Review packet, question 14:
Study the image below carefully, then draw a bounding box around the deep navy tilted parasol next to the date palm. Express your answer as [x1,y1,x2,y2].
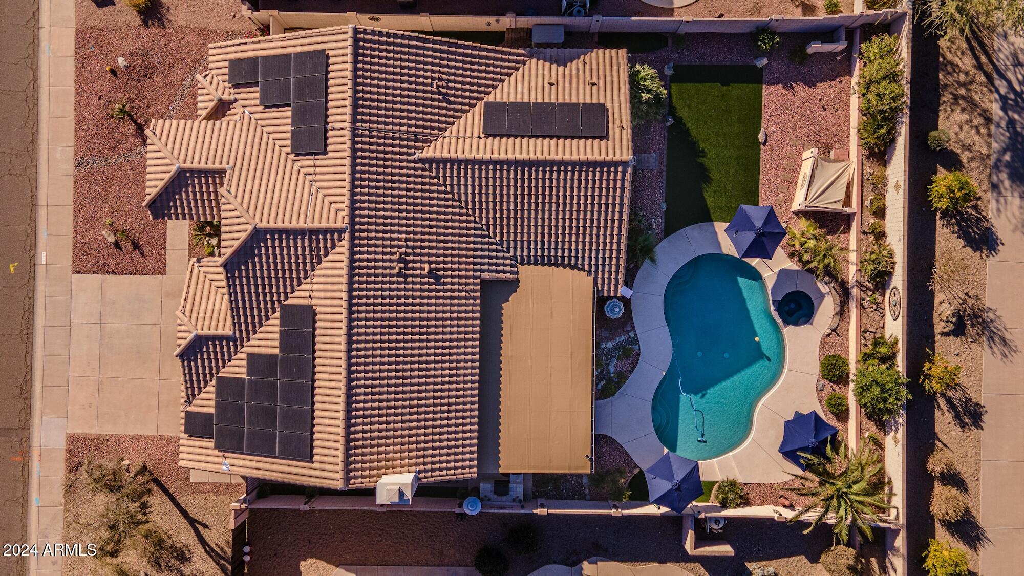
[777,407,831,467]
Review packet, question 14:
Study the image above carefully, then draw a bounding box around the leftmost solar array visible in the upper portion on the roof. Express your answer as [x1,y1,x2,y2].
[228,50,326,154]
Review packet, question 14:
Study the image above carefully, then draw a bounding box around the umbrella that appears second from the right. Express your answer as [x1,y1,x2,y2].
[725,205,785,260]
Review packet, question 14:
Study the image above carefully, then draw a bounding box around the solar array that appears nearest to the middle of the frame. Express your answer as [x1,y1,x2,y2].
[483,101,606,136]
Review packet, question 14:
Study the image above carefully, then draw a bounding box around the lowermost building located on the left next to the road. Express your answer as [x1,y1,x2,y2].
[141,22,636,505]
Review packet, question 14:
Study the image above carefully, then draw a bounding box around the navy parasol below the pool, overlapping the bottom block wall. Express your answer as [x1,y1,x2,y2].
[643,449,701,512]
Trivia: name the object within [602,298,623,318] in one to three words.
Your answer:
fountain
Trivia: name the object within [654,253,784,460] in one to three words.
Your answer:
swimming pool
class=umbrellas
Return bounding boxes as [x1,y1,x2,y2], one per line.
[643,449,701,512]
[777,407,831,467]
[725,205,785,260]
